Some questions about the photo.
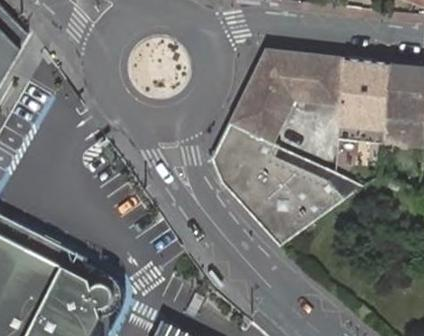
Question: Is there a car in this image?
Yes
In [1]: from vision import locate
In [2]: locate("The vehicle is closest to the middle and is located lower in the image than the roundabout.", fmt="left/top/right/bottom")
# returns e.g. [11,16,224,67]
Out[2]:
[155,160,174,184]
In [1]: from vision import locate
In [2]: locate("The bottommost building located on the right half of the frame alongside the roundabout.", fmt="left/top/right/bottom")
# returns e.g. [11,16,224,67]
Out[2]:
[214,126,362,246]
